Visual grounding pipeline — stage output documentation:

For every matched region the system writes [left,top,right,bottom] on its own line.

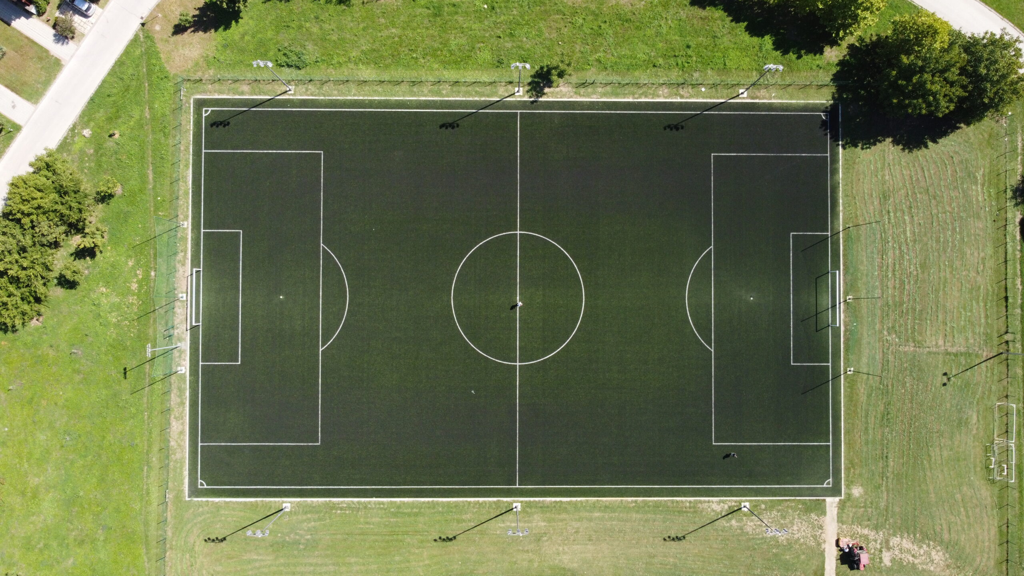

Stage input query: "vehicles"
[64,0,97,17]
[837,536,872,567]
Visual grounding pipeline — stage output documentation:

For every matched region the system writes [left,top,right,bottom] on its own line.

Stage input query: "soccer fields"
[187,97,843,500]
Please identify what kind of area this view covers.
sports ground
